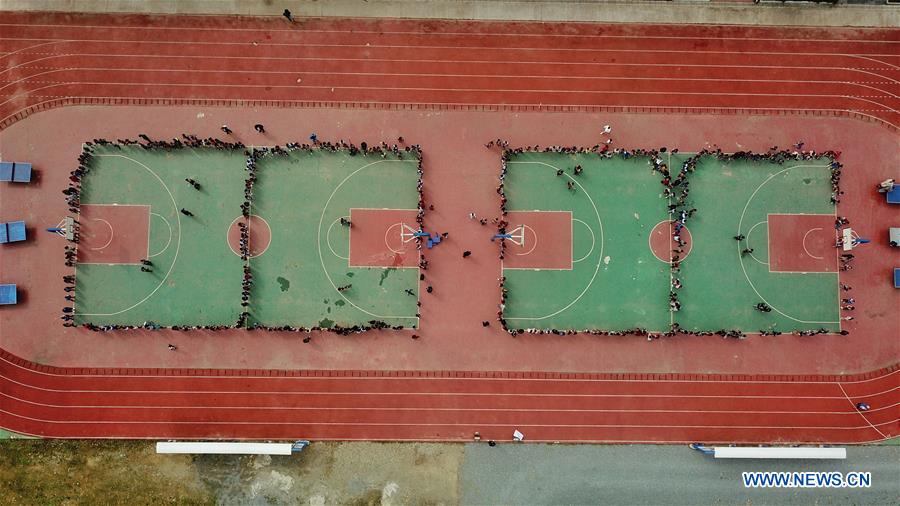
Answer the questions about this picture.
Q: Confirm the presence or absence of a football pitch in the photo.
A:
No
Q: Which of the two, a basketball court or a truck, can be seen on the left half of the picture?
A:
basketball court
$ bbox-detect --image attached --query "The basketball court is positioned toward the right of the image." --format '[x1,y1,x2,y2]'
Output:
[503,150,840,334]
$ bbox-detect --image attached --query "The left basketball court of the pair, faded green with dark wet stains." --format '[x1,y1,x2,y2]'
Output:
[73,143,421,329]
